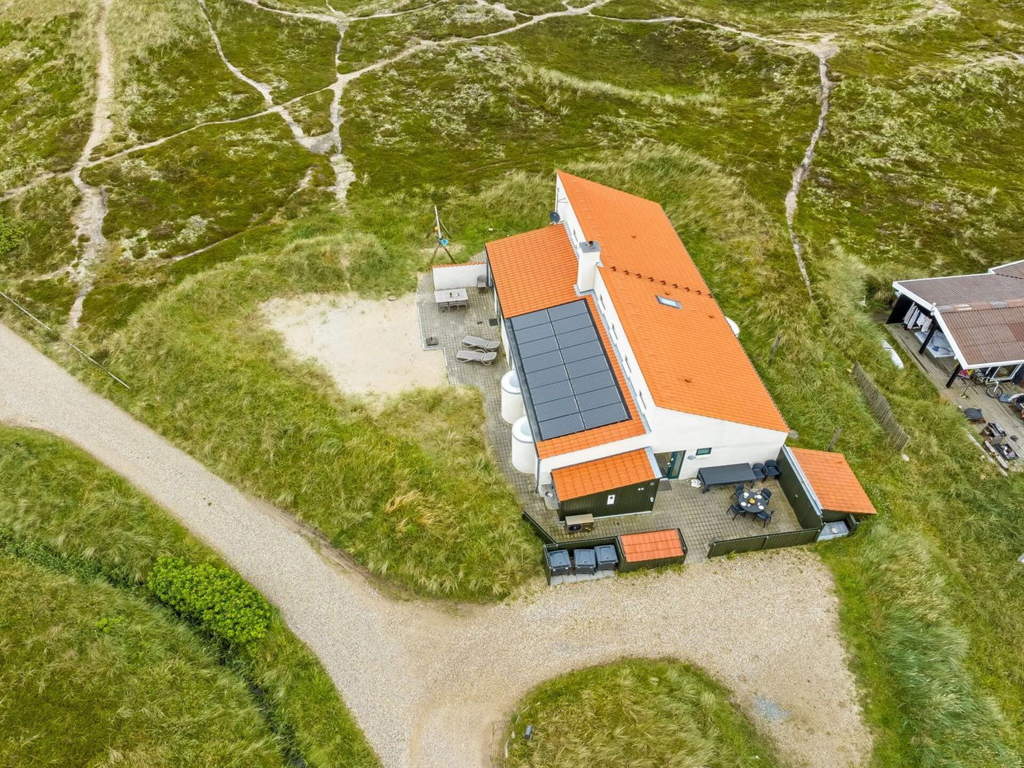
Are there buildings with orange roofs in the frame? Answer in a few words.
Yes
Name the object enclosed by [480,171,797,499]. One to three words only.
house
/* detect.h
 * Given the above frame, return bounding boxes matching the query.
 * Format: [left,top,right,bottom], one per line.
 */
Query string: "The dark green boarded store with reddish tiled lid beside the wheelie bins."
[614,526,693,573]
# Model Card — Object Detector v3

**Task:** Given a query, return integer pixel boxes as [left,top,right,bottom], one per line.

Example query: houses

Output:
[480,171,797,499]
[885,255,1024,389]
